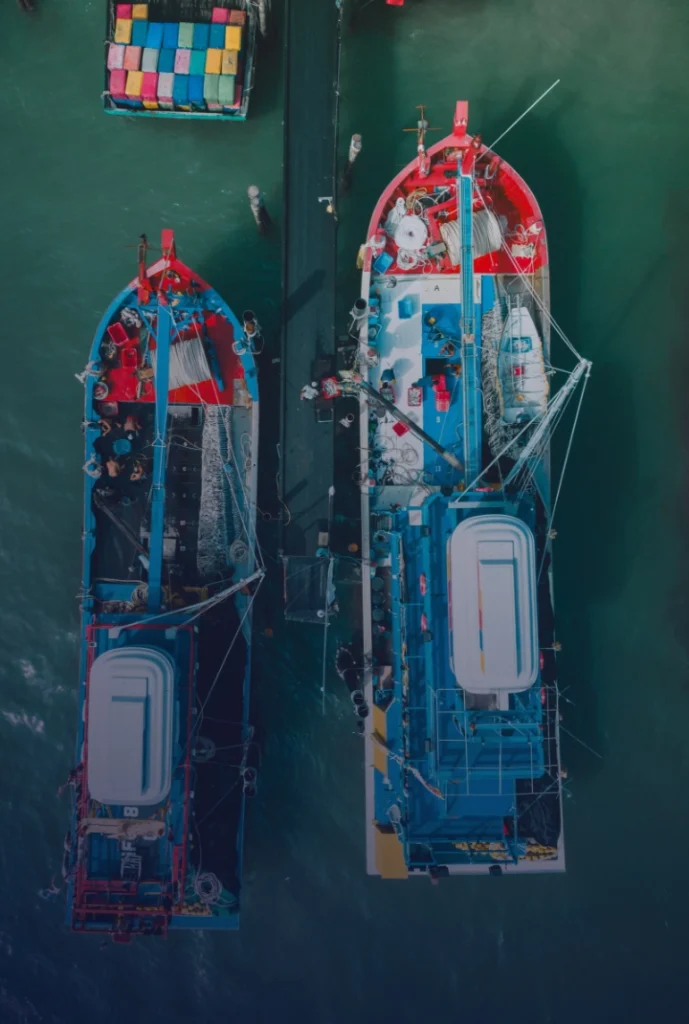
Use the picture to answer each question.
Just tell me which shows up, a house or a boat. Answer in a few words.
boat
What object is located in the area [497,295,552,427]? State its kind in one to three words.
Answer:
boat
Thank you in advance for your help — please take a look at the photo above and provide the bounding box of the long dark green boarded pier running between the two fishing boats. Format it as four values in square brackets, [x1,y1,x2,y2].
[280,0,345,552]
